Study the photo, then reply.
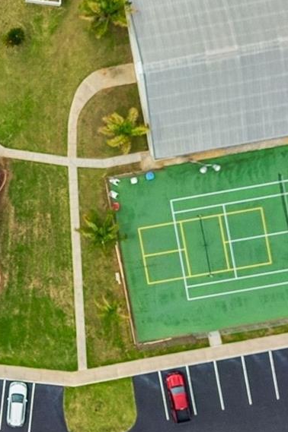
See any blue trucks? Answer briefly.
No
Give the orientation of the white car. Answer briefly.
up and down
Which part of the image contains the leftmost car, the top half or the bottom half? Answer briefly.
bottom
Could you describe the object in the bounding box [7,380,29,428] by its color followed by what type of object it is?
white car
